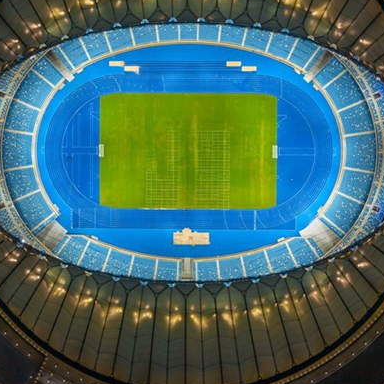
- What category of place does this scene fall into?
sports ground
